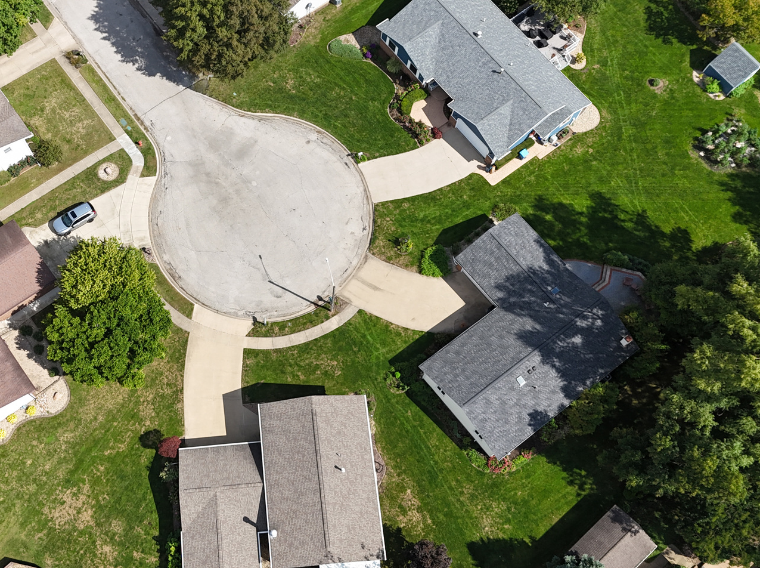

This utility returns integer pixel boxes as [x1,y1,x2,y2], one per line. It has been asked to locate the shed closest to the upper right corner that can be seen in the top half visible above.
[700,42,760,98]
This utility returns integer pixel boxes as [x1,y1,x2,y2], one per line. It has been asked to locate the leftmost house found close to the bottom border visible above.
[174,394,387,568]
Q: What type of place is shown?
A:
residential area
